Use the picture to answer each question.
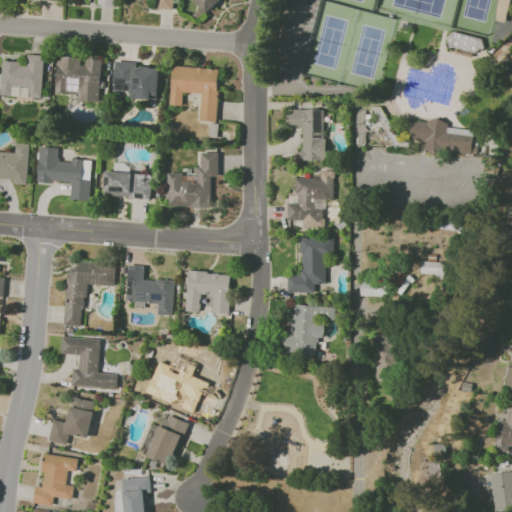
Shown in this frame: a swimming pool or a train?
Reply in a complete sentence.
Visible in the photo is a swimming pool.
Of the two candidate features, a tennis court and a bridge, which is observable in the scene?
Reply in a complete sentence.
This aerial view contains a tennis court.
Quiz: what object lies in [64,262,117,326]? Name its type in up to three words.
house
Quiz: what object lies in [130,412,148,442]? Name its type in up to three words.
swimming pool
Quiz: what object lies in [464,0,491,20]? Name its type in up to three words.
tennis court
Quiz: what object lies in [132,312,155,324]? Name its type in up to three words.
swimming pool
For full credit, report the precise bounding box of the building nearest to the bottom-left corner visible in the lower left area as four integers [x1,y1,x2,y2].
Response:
[32,454,80,506]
